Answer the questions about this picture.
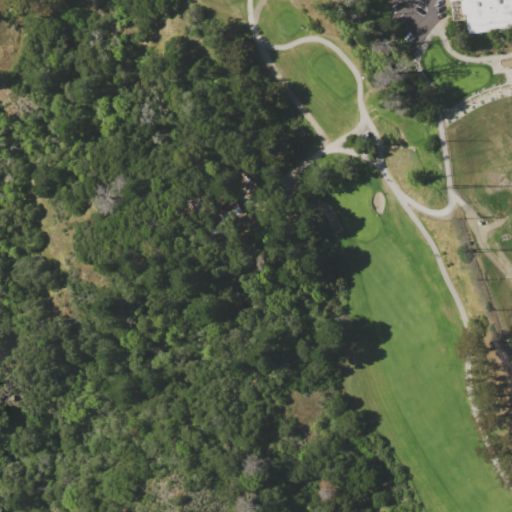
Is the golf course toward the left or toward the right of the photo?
right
